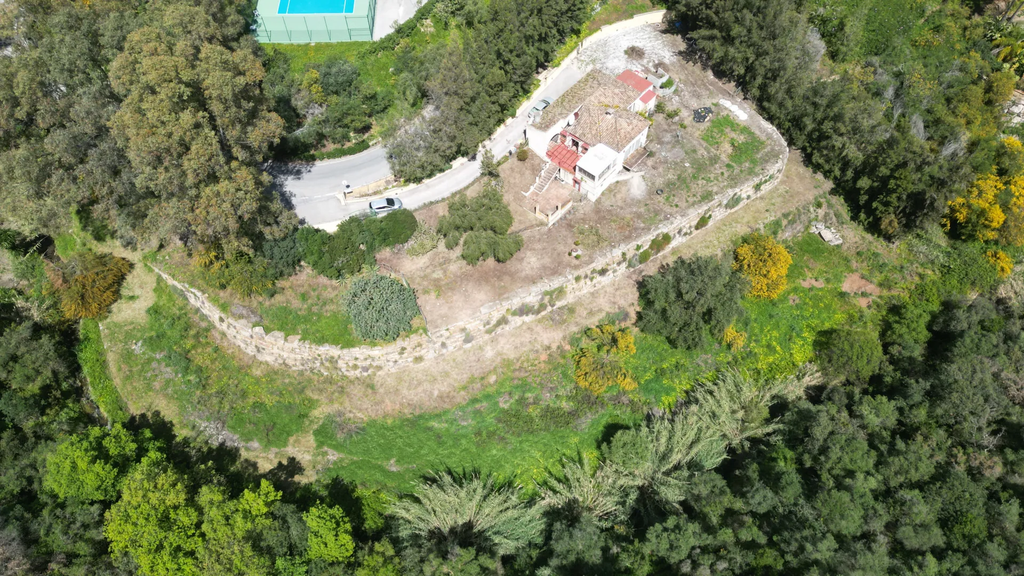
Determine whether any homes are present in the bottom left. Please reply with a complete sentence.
No, there is no home in the bottom left.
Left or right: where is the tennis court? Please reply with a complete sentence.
It is on the left.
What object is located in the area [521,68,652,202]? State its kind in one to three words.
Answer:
house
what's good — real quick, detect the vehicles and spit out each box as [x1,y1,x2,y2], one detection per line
[370,196,405,215]
[529,98,553,119]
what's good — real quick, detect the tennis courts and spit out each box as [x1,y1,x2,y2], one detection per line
[258,0,376,46]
